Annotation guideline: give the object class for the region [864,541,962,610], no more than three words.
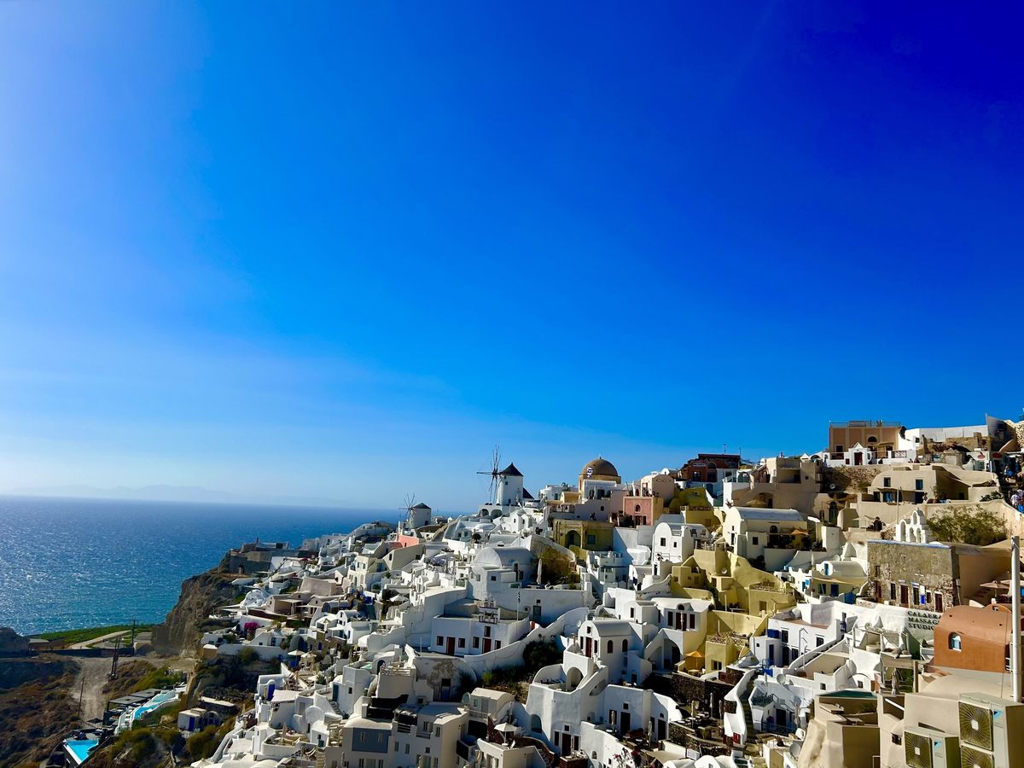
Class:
house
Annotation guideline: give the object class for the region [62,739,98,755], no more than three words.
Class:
swimming pool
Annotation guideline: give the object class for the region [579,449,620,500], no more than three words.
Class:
building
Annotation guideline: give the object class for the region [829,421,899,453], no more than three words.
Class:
house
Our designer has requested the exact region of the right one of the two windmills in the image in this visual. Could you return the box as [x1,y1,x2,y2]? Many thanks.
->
[477,445,526,516]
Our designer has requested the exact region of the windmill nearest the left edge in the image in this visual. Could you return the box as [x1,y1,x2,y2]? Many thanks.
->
[400,492,433,528]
